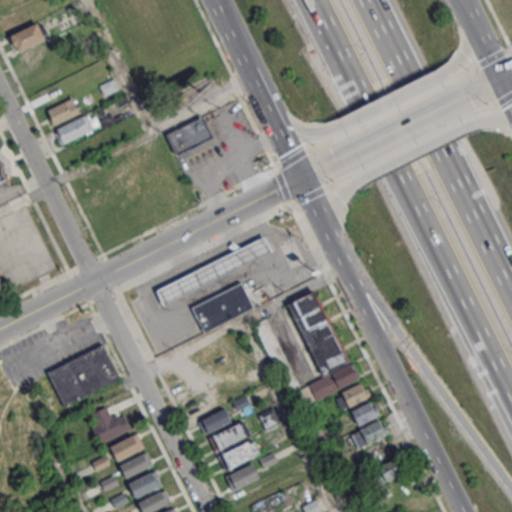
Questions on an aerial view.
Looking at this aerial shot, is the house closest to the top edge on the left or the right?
left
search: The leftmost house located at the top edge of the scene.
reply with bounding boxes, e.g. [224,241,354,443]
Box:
[10,22,44,51]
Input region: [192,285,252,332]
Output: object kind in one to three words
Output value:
building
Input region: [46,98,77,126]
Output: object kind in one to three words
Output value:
house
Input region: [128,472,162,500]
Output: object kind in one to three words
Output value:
house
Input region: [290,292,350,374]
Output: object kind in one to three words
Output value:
building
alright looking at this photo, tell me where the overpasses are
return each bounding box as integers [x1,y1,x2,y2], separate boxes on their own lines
[282,28,512,254]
